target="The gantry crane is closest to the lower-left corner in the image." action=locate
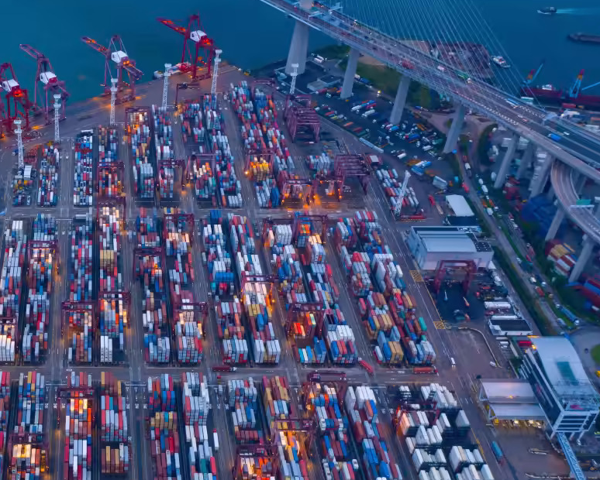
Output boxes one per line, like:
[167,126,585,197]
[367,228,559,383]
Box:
[6,431,52,472]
